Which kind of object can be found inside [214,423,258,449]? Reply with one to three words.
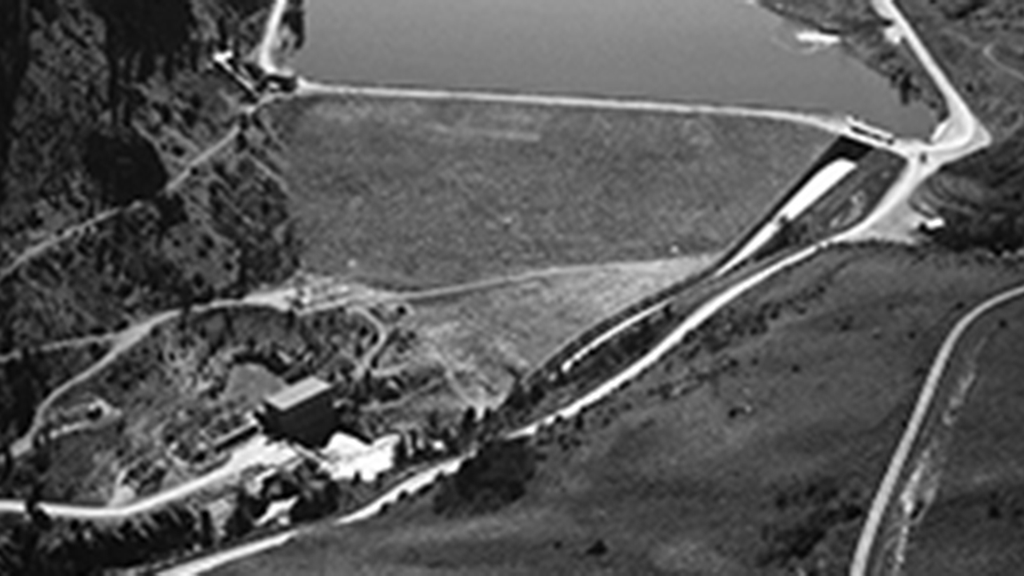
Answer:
shed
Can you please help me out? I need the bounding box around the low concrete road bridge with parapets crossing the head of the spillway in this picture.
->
[834,126,898,155]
